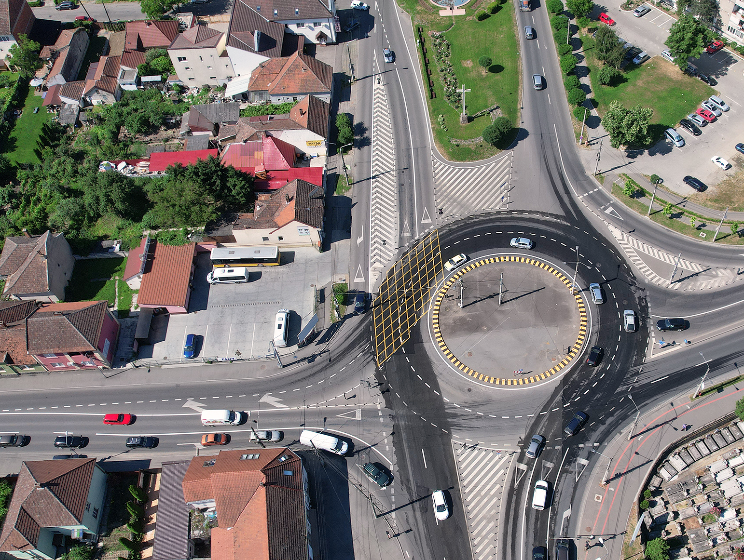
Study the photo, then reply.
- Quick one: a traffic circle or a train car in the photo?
traffic circle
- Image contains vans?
Yes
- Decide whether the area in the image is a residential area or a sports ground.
residential area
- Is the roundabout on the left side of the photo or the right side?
right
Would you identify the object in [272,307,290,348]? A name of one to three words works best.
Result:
vehicle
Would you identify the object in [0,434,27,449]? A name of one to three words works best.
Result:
car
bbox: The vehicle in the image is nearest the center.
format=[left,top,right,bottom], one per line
[354,290,368,316]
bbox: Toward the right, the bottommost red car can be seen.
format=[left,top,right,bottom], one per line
[695,106,716,123]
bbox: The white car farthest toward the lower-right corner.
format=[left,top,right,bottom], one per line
[531,478,548,512]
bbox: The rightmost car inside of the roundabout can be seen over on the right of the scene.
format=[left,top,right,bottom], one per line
[624,309,637,334]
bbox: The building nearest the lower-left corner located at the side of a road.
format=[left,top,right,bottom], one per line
[0,459,107,558]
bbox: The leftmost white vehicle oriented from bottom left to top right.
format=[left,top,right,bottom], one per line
[443,253,468,272]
